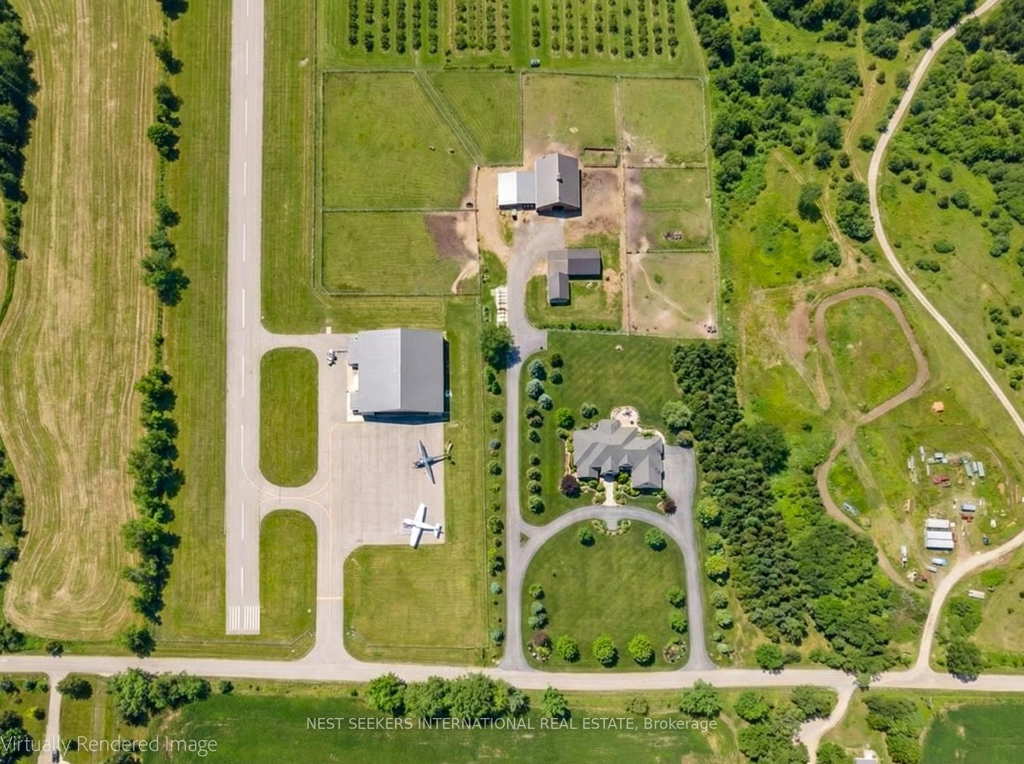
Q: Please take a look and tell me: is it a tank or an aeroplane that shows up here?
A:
aeroplane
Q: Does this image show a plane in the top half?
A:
No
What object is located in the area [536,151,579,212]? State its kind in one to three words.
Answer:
barn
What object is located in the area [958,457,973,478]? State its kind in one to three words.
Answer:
vehicle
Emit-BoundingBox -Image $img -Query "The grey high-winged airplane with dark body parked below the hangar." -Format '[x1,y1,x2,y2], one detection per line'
[415,440,455,485]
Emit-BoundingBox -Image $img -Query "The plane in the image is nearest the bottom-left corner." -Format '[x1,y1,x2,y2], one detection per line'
[403,504,441,547]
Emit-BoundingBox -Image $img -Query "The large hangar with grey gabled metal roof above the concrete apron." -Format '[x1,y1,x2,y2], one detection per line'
[348,330,446,413]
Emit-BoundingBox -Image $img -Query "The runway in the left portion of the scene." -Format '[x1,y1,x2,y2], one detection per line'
[226,0,264,634]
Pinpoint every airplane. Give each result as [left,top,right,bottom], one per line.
[403,504,441,547]
[415,440,455,485]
